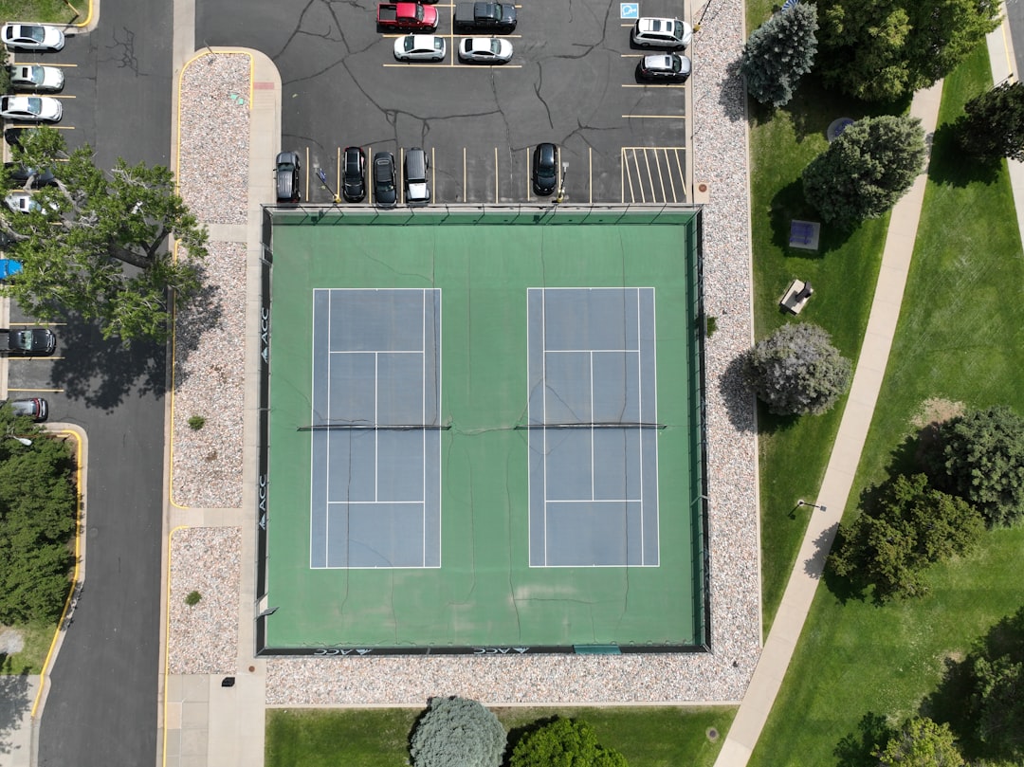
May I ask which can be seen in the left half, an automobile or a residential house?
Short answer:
automobile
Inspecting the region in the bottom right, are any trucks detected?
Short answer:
No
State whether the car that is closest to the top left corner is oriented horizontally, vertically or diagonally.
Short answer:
horizontally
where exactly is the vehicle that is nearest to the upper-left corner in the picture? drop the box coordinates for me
[5,24,66,54]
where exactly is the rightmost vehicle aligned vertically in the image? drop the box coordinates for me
[532,145,559,199]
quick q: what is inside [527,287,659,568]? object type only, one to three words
tennis court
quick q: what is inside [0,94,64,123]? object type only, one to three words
car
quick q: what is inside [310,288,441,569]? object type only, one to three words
tennis court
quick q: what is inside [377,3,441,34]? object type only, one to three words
truck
